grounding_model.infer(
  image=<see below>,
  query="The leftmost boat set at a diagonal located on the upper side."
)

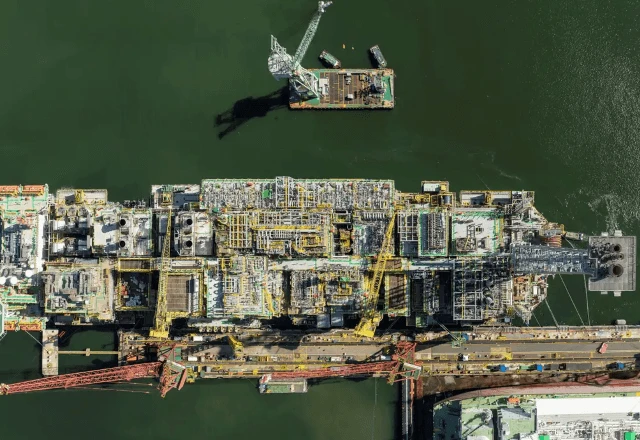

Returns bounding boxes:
[320,50,342,68]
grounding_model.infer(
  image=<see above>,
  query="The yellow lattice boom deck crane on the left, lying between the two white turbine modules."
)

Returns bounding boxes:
[148,205,178,343]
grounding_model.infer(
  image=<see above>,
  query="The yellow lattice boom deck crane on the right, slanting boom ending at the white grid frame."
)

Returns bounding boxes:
[356,208,398,341]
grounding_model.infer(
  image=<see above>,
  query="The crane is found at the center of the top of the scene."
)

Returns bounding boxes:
[268,1,332,101]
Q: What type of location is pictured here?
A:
port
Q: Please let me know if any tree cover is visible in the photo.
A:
No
